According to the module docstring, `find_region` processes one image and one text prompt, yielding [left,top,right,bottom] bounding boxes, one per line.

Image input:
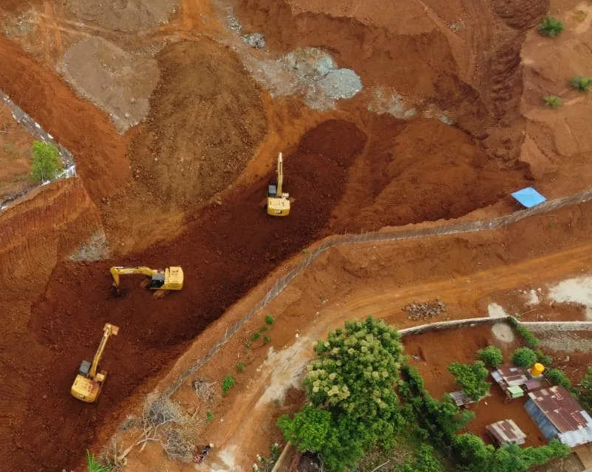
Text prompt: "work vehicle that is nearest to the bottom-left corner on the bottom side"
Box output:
[73,331,115,406]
